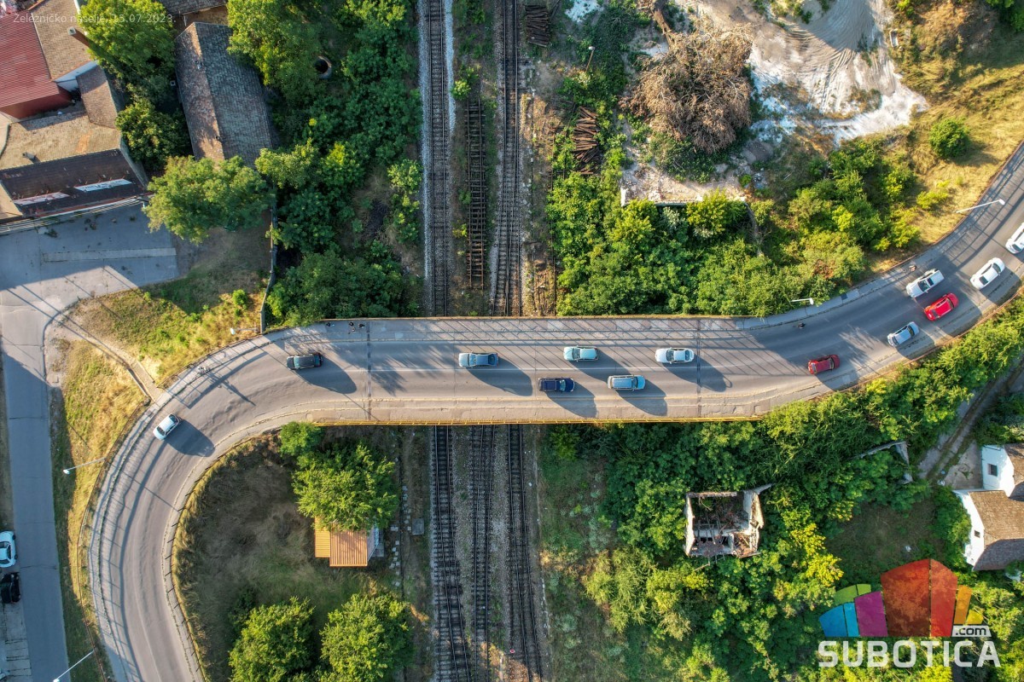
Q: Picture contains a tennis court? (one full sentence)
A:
No, the photo shows no tennis court.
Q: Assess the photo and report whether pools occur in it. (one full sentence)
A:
No, I can't see a single pool in this photo.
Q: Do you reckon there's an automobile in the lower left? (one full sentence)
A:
Yes, the scene does show an automobile in the lower left.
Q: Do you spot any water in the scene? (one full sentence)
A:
No, there's no water in this view.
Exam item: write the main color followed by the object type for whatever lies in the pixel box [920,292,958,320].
red car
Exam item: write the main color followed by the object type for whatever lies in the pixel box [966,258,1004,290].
white car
